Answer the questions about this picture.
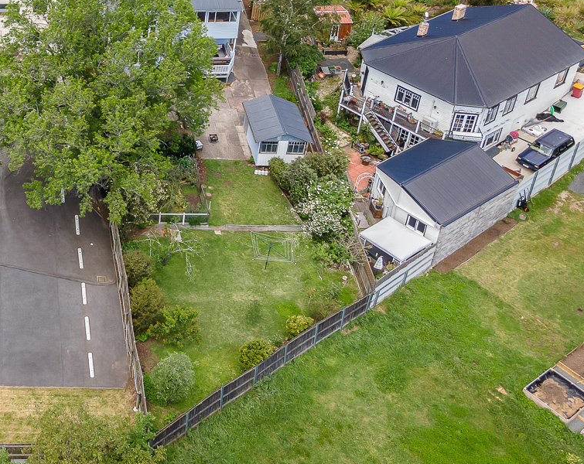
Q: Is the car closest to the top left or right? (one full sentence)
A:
The car closest to the top sits on the right side.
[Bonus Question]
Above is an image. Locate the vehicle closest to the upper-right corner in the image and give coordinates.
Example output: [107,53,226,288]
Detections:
[519,119,579,168]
